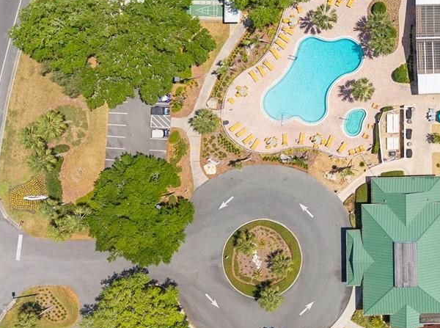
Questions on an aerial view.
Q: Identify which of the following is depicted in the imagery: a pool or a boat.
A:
pool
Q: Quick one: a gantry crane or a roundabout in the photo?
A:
roundabout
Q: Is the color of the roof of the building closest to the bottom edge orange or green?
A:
green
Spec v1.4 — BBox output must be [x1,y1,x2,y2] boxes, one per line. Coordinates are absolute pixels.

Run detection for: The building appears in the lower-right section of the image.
[347,175,440,328]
